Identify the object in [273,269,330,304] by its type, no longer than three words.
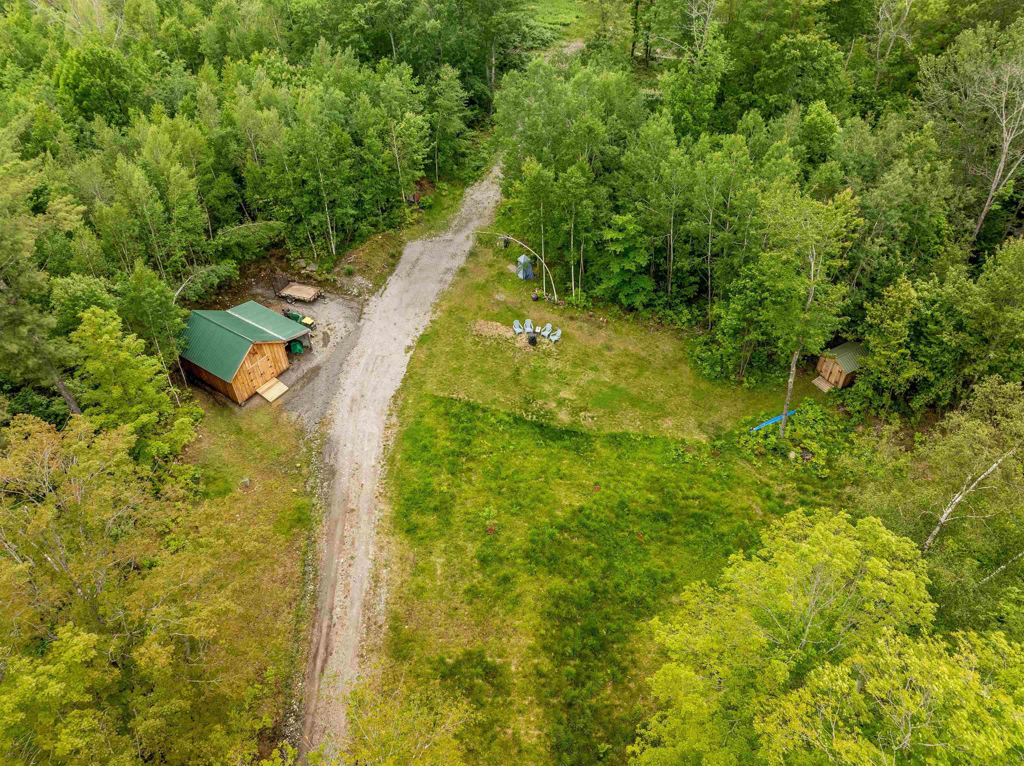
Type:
trailer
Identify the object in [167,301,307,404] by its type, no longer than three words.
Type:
shed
